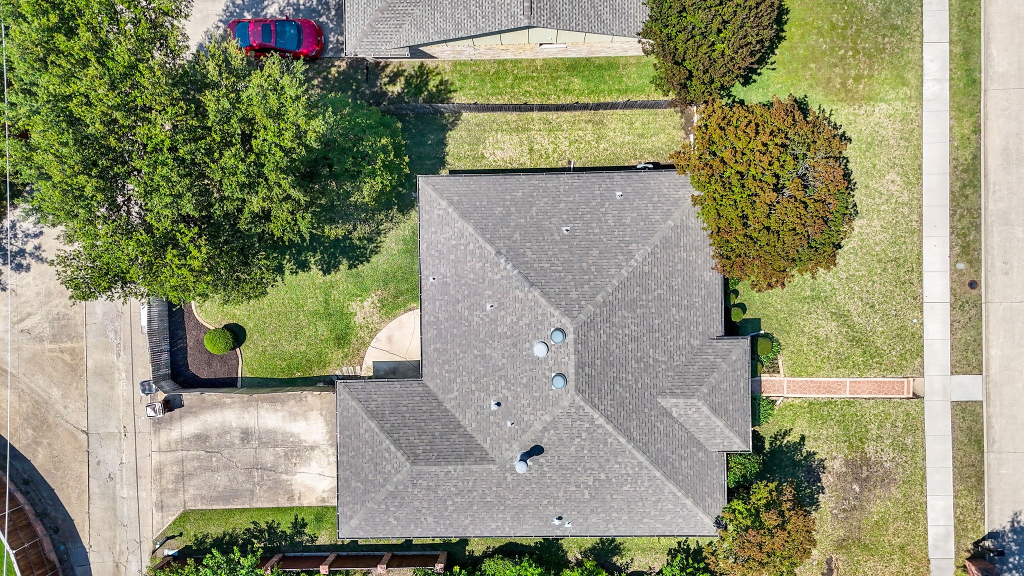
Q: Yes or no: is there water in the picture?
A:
No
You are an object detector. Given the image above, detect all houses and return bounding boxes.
[340,0,657,61]
[336,171,751,540]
